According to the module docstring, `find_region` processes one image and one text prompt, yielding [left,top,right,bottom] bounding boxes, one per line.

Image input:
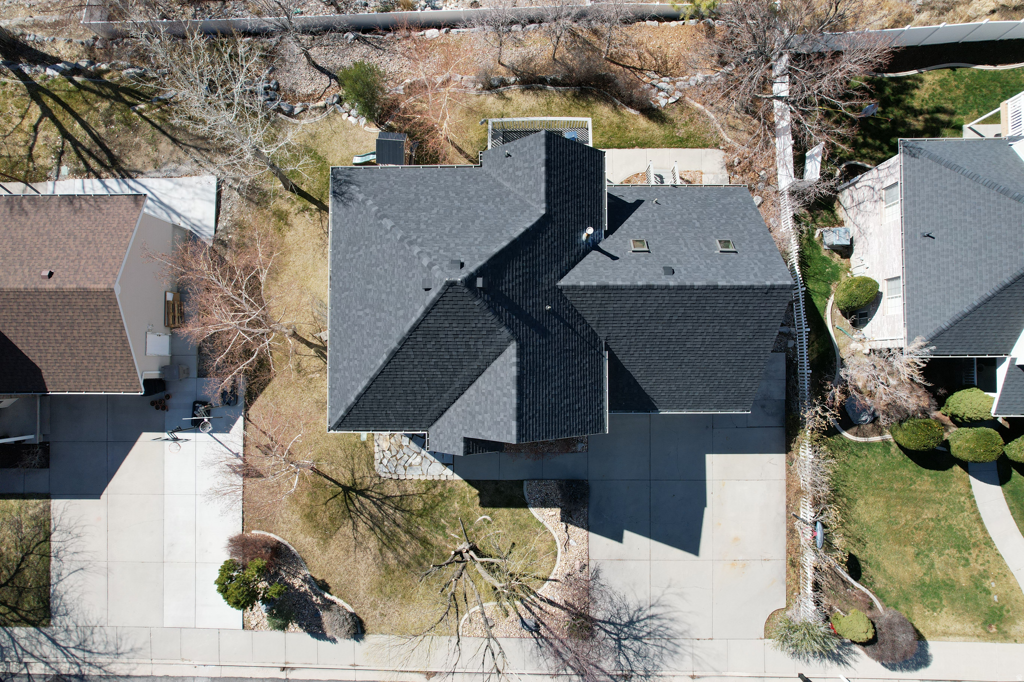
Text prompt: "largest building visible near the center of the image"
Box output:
[329,134,790,457]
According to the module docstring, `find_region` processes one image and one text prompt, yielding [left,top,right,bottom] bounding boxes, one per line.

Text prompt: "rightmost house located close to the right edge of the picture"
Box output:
[839,122,1024,418]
